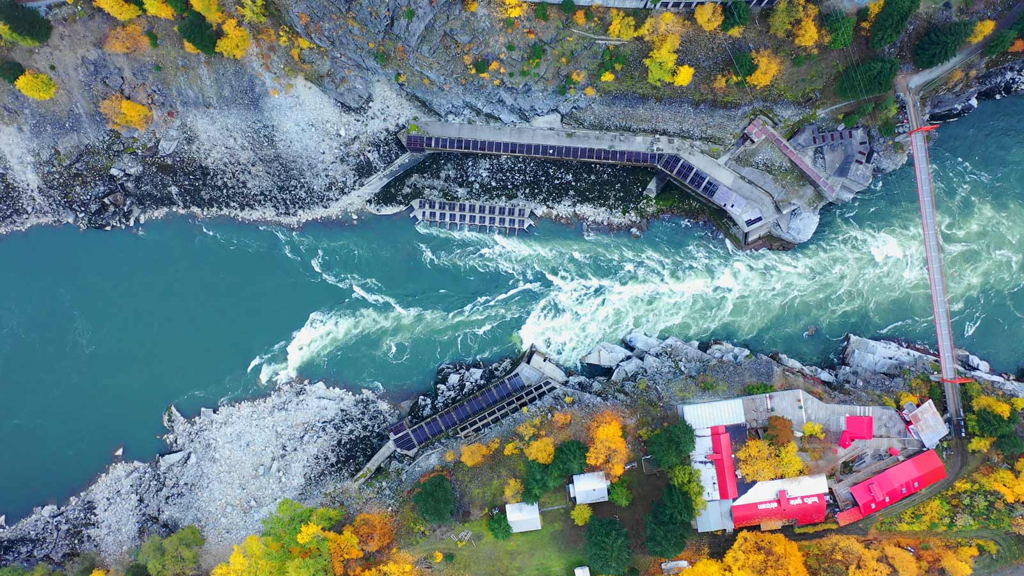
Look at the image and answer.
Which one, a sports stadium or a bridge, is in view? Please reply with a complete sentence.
The one in the frame is a bridge.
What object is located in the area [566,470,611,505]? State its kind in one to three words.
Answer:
shed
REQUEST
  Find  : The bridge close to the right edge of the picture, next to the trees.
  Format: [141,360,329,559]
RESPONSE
[889,90,975,419]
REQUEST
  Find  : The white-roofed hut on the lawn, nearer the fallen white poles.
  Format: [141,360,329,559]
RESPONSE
[506,499,541,533]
